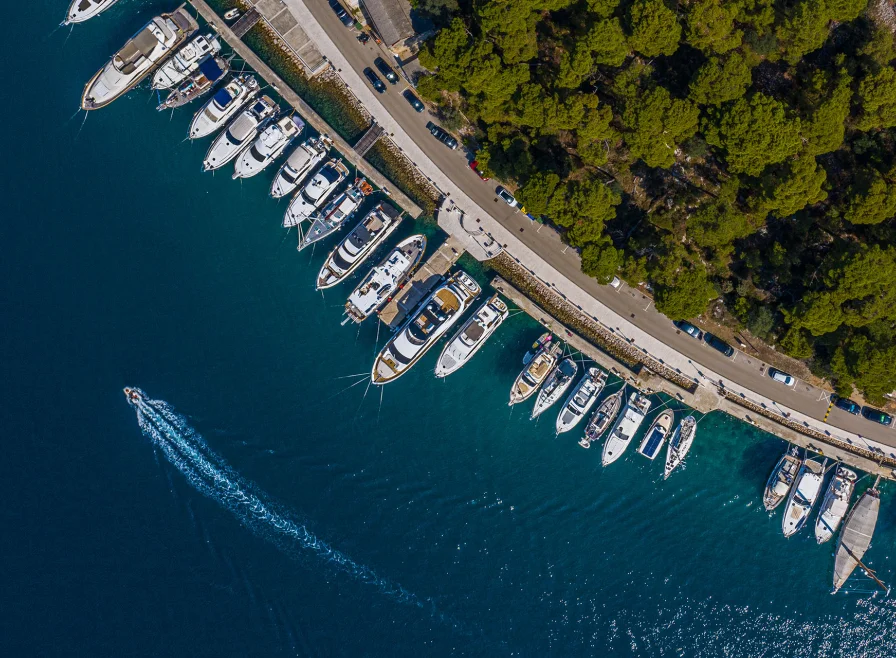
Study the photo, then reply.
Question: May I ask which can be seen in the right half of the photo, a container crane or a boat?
boat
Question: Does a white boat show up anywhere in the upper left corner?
Yes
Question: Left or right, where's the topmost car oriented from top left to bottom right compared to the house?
on the left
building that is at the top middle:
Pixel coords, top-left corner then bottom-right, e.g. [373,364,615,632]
[360,0,415,49]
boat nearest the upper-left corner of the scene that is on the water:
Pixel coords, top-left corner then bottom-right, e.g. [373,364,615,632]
[58,0,124,38]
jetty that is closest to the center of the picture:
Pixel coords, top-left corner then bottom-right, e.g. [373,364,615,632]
[378,235,466,326]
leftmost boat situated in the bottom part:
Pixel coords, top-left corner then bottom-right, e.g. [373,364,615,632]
[125,388,141,404]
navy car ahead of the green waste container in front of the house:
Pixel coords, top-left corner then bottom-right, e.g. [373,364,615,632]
[330,0,353,24]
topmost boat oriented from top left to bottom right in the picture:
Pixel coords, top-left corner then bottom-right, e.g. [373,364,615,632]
[245,74,258,88]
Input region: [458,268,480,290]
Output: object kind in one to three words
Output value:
boat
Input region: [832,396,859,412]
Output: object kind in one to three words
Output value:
car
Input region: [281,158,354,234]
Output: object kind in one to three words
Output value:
boat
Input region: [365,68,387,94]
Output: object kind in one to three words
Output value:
car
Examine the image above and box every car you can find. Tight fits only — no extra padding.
[862,406,890,424]
[497,187,520,209]
[365,68,387,94]
[676,319,701,340]
[330,0,353,24]
[403,90,425,114]
[704,334,732,355]
[832,396,859,412]
[769,368,794,385]
[429,122,456,149]
[376,59,399,85]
